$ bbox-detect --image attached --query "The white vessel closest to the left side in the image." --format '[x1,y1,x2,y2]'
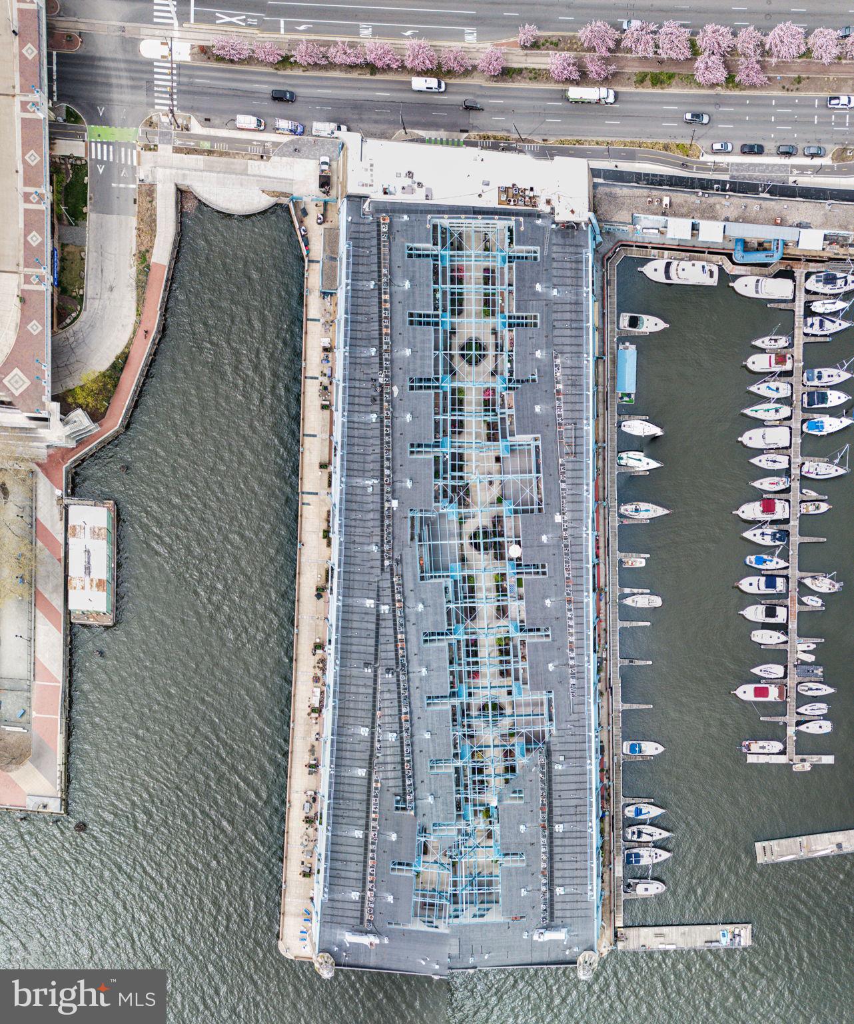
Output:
[63,495,118,626]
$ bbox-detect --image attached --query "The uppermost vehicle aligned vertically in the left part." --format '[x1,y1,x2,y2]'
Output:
[317,154,330,196]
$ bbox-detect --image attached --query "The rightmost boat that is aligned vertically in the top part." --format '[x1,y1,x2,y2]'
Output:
[618,340,639,403]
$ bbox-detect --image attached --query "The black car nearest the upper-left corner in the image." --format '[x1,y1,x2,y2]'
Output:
[270,87,294,101]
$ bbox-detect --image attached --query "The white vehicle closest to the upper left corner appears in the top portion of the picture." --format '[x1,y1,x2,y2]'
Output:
[233,111,264,128]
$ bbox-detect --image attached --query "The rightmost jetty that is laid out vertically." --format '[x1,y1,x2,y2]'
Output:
[785,268,808,764]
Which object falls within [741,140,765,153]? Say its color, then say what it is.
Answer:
black vehicle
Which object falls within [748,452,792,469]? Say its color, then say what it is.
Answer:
white boat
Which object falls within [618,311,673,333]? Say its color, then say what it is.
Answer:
white boat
